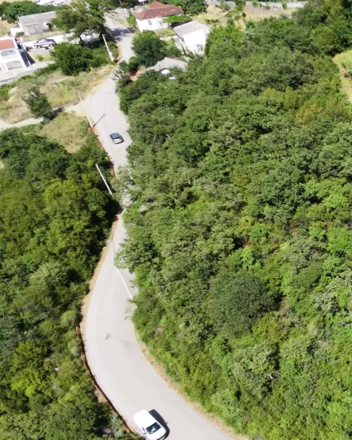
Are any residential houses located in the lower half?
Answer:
No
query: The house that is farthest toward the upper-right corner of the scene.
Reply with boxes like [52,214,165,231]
[171,8,221,52]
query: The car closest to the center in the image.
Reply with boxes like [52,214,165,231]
[106,129,124,144]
